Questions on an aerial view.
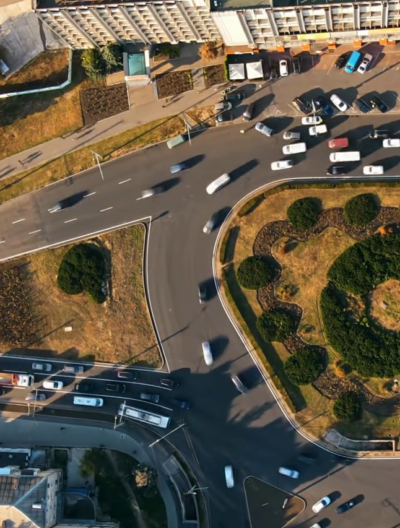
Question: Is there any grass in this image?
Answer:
Yes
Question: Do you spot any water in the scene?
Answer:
No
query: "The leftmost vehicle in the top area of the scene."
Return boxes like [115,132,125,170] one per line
[49,201,67,214]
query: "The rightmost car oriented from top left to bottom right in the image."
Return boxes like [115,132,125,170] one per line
[370,95,388,114]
